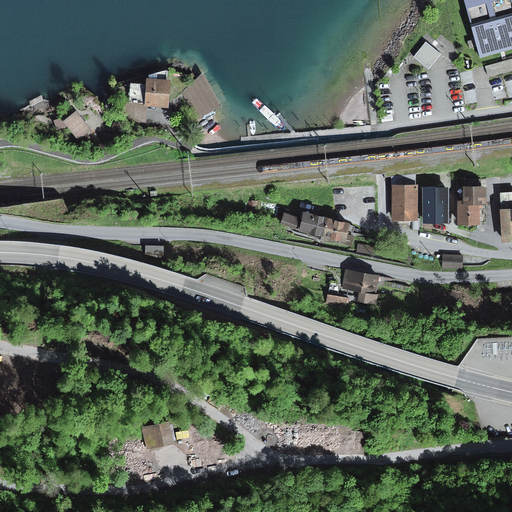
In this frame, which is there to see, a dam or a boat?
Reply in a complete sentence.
It is a boat that can be seen here.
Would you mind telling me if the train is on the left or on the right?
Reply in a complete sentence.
The train is on the right side of the image.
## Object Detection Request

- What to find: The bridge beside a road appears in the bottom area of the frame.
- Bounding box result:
[0,241,458,390]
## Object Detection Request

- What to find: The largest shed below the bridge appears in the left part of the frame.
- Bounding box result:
[142,423,176,449]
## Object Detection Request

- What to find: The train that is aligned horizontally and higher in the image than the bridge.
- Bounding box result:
[257,138,512,173]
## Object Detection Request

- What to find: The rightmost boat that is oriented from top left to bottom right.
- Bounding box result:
[251,97,285,131]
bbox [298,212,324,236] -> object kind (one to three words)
house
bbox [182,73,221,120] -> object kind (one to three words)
building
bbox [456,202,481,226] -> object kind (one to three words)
house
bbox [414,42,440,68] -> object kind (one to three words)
building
